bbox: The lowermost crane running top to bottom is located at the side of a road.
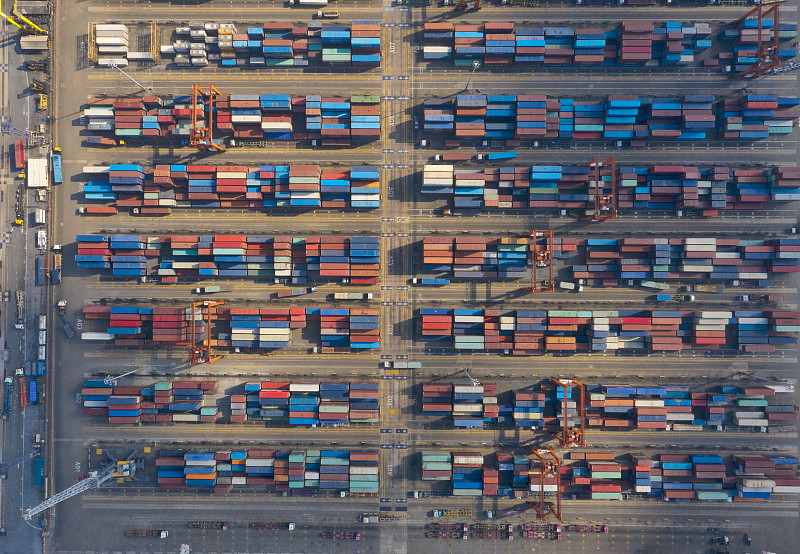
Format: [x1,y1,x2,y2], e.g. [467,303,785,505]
[530,445,562,518]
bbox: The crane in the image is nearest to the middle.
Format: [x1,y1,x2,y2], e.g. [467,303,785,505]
[523,227,554,293]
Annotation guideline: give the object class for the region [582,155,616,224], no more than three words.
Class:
container crane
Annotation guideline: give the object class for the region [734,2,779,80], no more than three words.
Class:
container crane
